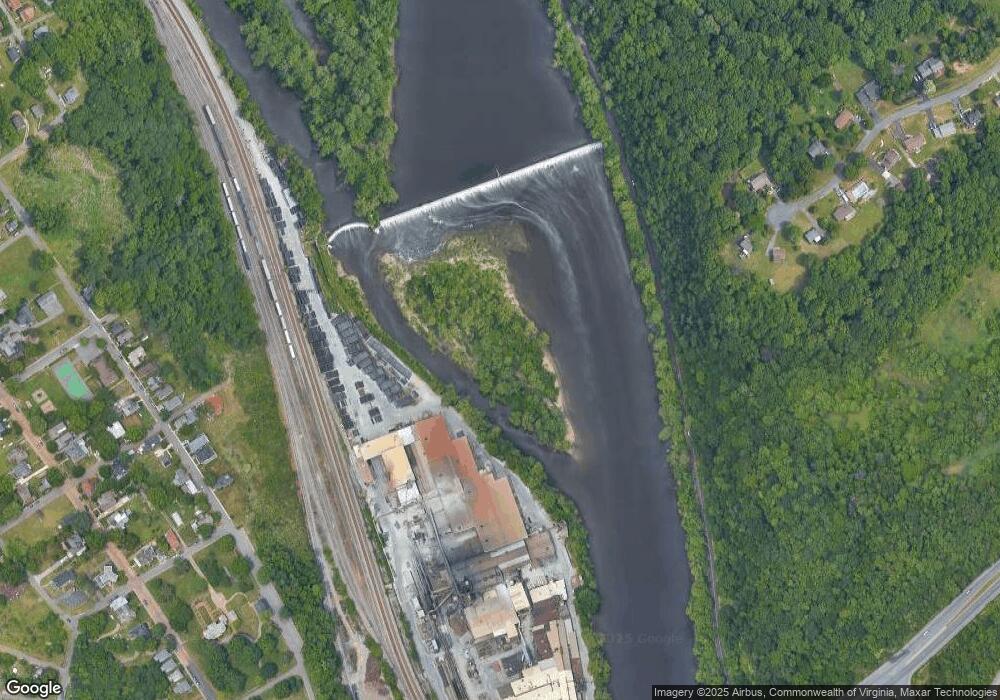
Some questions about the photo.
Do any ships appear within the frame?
No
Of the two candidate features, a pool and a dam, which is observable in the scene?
dam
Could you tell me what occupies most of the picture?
trees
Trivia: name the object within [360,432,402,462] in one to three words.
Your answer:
building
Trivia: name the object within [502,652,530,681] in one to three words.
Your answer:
building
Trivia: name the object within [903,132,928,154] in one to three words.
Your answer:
house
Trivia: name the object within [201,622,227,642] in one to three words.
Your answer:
house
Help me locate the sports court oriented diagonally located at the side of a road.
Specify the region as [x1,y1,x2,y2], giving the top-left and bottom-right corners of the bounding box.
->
[52,357,95,402]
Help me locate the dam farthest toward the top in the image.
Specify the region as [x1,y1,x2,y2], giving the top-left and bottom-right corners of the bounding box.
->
[379,143,603,229]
